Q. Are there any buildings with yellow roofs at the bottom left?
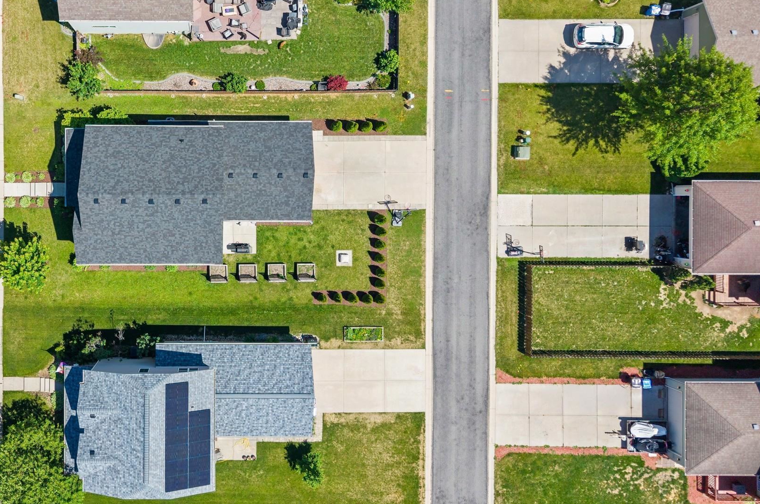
No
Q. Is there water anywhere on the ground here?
No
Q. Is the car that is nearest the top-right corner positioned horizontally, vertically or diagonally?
horizontally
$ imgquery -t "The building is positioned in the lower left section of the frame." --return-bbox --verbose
[64,316,312,503]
